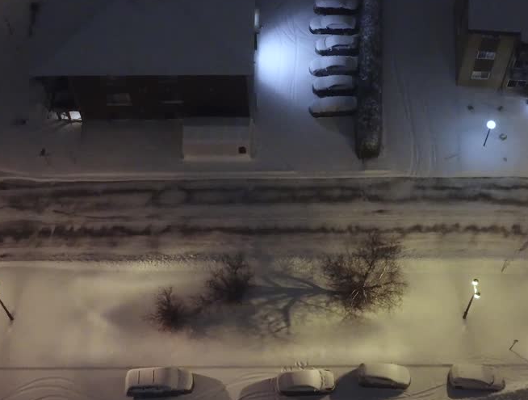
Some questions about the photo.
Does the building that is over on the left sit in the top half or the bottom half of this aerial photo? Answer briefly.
top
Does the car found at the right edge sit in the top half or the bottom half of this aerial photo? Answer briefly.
bottom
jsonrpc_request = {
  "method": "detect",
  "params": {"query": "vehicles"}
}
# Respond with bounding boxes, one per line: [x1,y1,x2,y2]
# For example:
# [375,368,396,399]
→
[308,96,359,121]
[311,76,359,99]
[277,368,336,397]
[309,16,359,39]
[356,363,413,392]
[445,365,507,394]
[125,366,193,399]
[313,0,358,19]
[309,56,359,79]
[314,35,359,58]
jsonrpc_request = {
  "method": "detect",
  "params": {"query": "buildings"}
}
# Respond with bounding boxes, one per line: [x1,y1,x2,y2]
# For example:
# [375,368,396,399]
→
[30,0,259,159]
[456,0,528,89]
